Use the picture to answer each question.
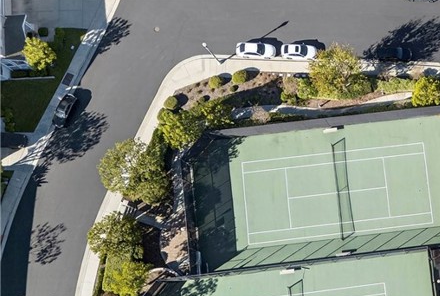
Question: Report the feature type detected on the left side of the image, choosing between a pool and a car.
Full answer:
What appears on the left side of the image is a car.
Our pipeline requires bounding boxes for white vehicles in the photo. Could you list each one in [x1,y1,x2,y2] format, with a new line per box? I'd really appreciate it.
[237,40,274,58]
[280,41,317,59]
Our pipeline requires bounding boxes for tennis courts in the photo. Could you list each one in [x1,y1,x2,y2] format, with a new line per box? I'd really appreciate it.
[193,114,440,276]
[154,246,432,296]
